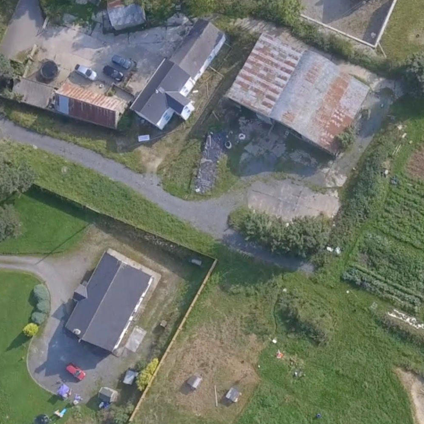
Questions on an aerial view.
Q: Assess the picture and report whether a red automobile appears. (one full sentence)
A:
Yes, you can see a red automobile in this photo.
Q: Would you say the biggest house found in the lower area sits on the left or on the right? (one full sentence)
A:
The biggest house found in the lower area appears in the left half of the scene.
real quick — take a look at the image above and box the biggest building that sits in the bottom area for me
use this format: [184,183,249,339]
[66,252,153,353]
